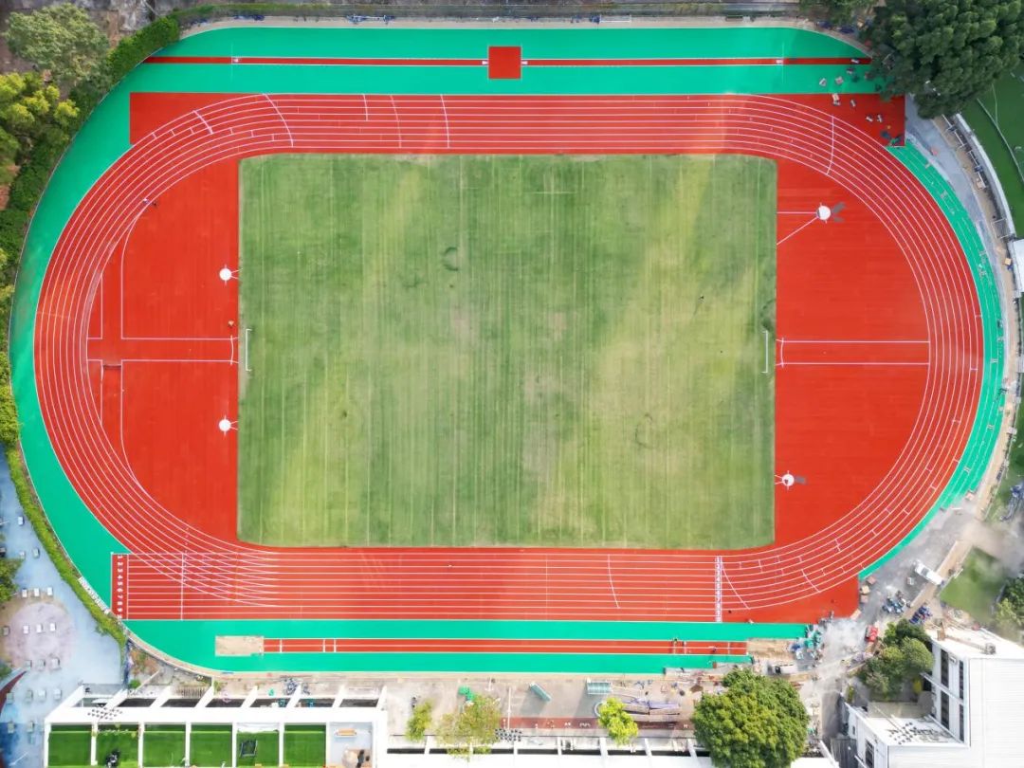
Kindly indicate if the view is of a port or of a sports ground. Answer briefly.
sports ground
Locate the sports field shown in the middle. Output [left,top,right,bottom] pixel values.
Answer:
[238,155,777,547]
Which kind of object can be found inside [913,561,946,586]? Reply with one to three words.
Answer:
vehicle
